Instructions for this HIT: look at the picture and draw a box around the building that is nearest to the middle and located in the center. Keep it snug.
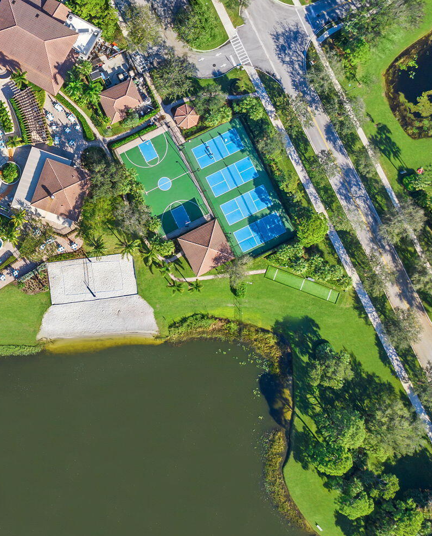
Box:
[175,218,235,277]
